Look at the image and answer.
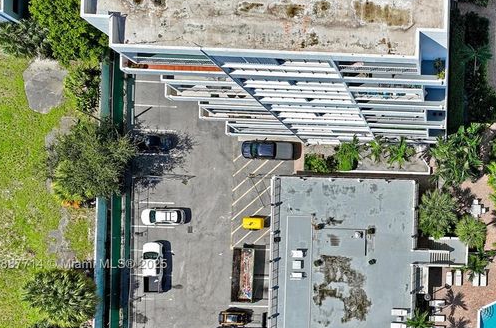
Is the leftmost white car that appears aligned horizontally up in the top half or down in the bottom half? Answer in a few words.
bottom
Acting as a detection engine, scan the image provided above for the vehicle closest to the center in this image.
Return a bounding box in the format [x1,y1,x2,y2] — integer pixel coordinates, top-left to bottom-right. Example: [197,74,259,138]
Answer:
[240,140,291,160]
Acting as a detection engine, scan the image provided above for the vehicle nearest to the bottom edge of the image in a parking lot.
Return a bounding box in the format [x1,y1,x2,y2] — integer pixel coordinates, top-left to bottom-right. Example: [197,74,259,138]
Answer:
[216,308,244,325]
